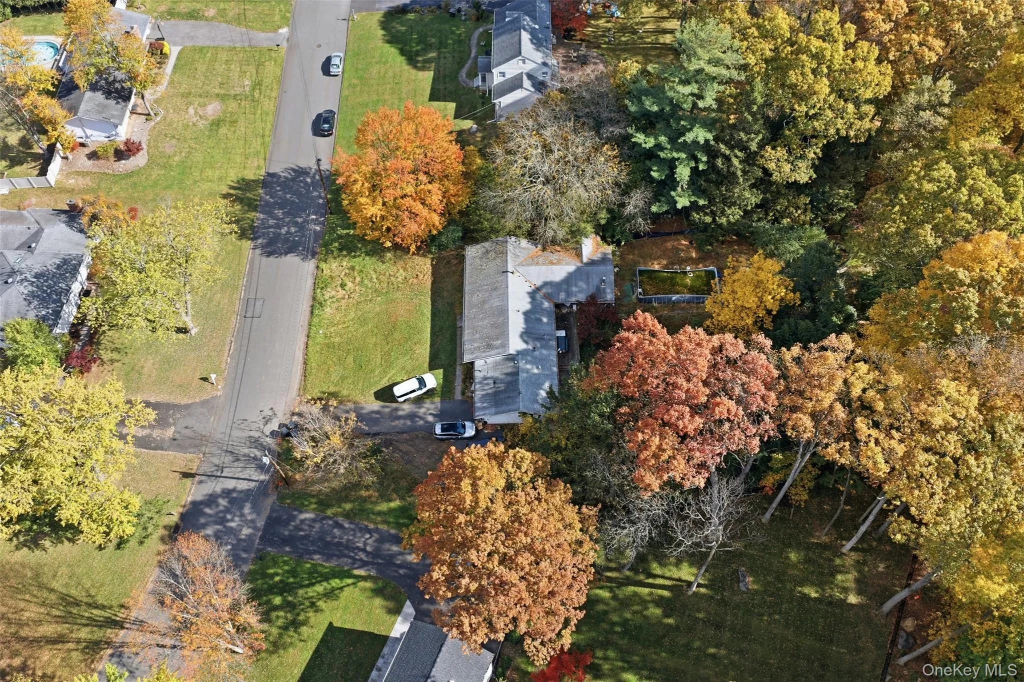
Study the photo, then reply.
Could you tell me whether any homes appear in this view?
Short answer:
Yes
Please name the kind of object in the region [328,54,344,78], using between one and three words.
car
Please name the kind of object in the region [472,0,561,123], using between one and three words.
house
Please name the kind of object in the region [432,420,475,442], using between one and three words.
car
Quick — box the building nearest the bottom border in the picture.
[381,620,493,682]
